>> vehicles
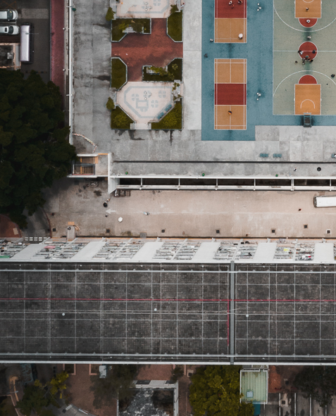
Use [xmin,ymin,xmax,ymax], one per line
[312,195,336,207]
[0,9,16,21]
[0,24,19,35]
[19,22,33,64]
